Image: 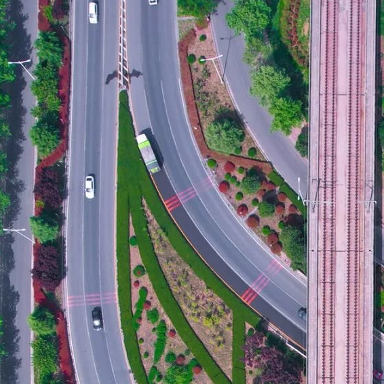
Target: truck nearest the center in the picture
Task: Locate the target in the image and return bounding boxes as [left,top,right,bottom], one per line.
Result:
[134,131,162,177]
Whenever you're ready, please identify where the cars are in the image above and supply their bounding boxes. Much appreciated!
[292,306,307,324]
[84,175,95,198]
[149,0,159,8]
[88,2,99,25]
[92,308,103,330]
[373,368,384,384]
